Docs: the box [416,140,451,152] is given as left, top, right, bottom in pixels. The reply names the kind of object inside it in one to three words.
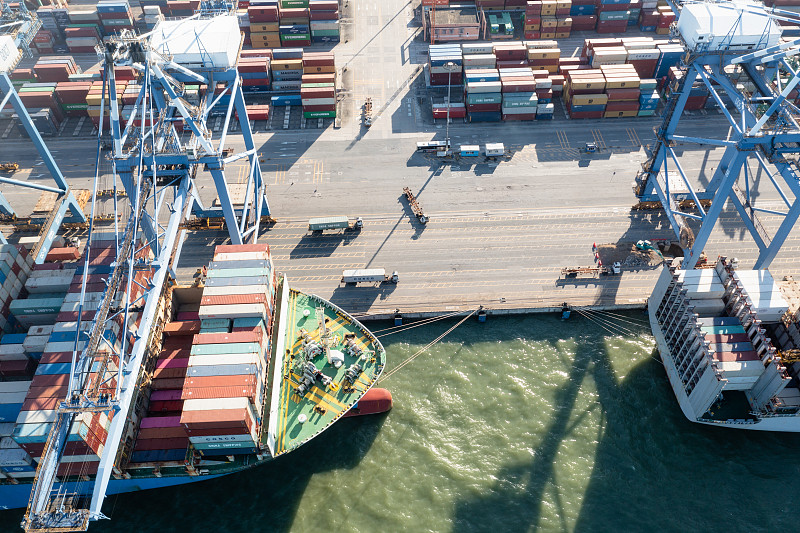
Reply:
vehicle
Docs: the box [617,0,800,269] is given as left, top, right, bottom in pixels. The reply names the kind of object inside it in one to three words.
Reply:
container crane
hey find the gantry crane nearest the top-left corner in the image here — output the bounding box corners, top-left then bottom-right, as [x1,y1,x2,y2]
[0,10,107,278]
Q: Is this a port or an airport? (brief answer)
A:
port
